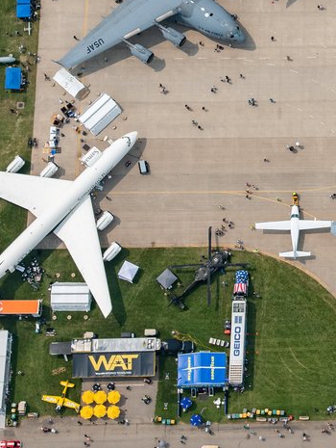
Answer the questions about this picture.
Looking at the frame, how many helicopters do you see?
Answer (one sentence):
Altogether the scene contains 1 helicopter.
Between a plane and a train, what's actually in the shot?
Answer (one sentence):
There is a plane in the scene.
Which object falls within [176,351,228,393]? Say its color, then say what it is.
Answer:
blue tent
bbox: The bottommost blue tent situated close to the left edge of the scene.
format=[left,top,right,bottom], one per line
[5,69,23,91]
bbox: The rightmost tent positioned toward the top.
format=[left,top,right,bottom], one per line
[74,89,125,140]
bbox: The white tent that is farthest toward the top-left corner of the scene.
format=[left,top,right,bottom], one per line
[52,72,89,100]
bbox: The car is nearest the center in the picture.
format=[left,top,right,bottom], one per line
[136,155,149,181]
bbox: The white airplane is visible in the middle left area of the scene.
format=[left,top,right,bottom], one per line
[0,133,138,317]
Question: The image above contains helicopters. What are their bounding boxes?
[168,228,250,308]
